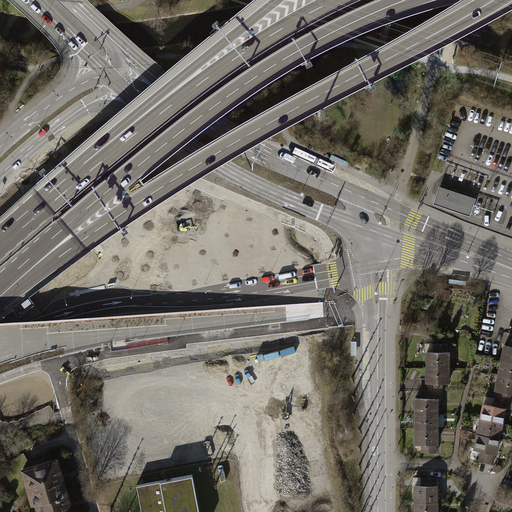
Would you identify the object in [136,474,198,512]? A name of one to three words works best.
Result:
building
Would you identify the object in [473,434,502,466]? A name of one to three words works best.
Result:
house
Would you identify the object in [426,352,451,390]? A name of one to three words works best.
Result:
house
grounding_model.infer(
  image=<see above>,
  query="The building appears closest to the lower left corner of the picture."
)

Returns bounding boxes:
[18,458,72,512]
